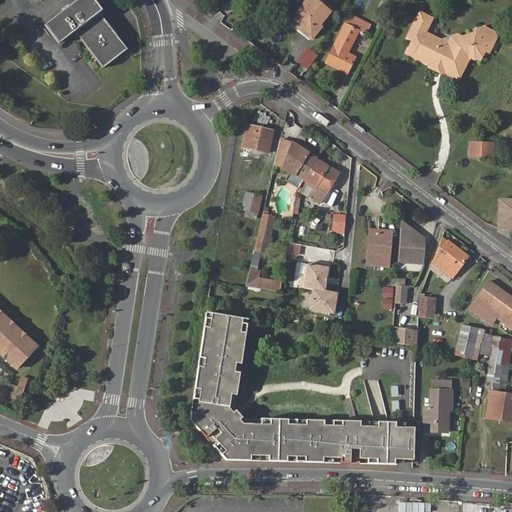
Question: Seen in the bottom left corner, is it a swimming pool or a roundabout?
roundabout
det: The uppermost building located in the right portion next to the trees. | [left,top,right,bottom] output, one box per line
[297,0,332,40]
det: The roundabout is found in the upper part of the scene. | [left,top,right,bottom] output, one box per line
[102,94,222,214]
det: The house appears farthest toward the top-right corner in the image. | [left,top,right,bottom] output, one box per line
[404,11,498,78]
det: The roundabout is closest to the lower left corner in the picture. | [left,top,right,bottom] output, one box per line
[52,416,174,512]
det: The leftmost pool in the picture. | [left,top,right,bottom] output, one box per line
[270,182,298,217]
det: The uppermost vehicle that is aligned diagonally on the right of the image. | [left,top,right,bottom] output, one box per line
[312,112,330,126]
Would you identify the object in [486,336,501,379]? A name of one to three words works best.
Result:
shed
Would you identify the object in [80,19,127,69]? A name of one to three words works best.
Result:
building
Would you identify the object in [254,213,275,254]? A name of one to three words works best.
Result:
barn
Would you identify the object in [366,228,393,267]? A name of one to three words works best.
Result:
house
